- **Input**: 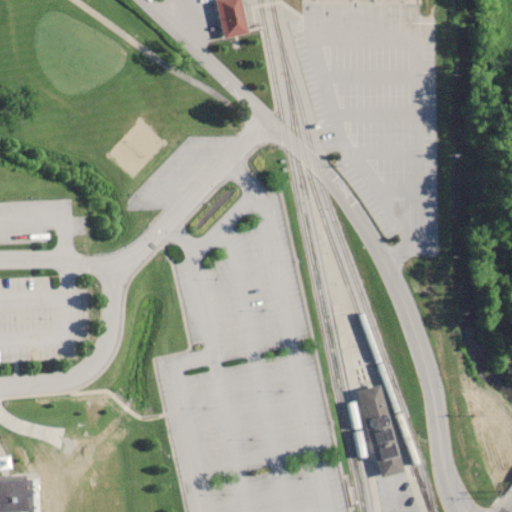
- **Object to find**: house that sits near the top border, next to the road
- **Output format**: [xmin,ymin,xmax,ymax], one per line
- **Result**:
[213,0,248,38]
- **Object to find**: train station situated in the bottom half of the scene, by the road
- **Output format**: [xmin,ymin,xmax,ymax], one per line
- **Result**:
[311,192,426,512]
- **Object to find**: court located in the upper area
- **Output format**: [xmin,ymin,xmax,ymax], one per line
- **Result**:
[106,117,168,178]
